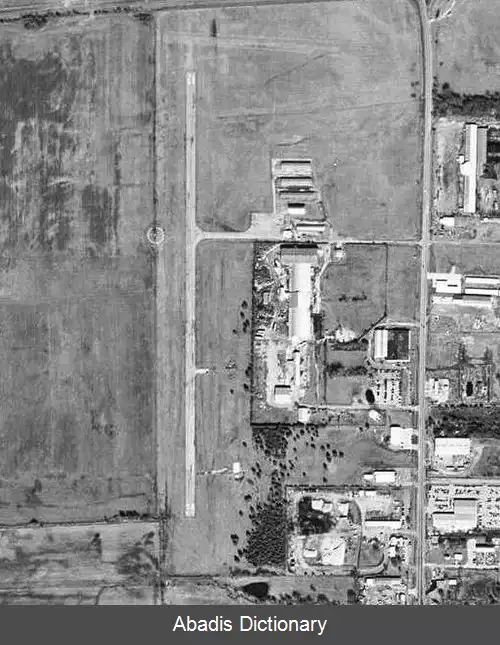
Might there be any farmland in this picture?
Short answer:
Yes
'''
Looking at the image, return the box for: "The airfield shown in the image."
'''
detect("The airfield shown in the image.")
[159,8,312,574]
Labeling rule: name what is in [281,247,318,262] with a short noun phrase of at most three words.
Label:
building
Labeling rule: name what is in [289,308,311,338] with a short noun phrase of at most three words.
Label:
building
